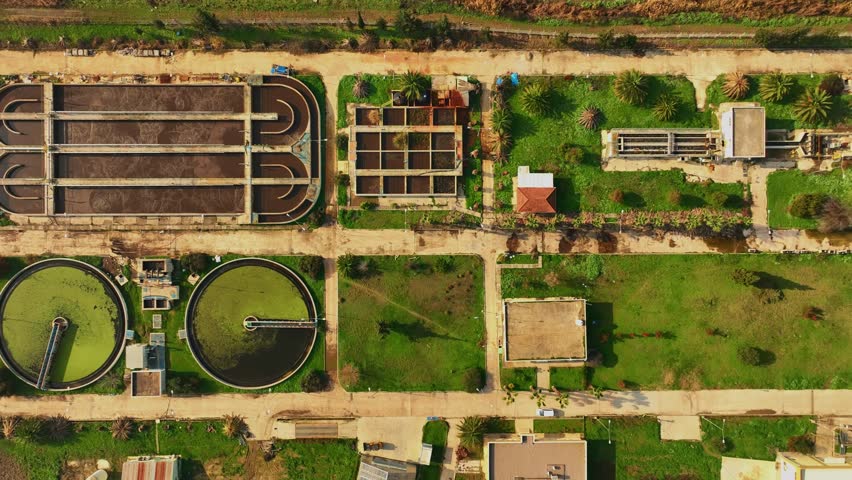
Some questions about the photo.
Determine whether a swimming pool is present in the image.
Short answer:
No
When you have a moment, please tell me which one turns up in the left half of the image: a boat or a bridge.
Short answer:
bridge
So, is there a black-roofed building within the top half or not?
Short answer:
No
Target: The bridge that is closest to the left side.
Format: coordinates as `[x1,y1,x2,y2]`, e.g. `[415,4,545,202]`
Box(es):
[32,320,64,392]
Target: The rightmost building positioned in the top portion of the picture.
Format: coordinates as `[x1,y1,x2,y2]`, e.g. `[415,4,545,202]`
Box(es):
[721,106,765,161]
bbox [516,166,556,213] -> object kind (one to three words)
house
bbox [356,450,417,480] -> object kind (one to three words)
shed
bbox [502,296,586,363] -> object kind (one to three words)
building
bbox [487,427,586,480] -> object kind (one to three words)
building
